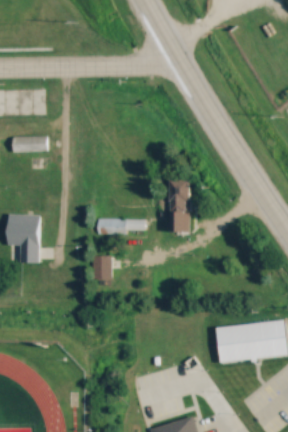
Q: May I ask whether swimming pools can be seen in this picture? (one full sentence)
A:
No, this view has no swimming pool in it.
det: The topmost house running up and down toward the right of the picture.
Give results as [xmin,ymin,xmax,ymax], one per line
[170,179,194,236]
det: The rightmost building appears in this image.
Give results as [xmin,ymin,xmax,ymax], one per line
[216,320,288,364]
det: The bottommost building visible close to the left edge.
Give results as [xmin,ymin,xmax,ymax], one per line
[6,214,42,263]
